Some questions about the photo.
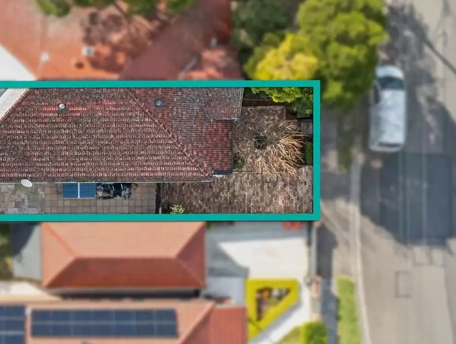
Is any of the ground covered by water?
No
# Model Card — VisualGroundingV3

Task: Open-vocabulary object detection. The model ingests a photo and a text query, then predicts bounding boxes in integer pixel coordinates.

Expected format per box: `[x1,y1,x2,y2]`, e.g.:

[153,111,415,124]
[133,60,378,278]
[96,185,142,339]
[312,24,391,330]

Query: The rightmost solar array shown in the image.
[31,311,177,338]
